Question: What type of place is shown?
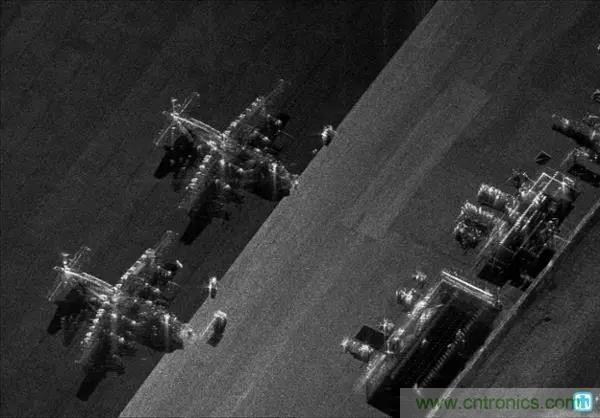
airport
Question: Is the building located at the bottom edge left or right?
right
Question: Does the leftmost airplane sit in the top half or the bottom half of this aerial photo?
bottom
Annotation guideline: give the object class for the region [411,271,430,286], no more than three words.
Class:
vehicle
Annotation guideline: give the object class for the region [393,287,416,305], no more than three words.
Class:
vehicle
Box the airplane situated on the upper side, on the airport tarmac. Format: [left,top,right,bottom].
[154,81,293,212]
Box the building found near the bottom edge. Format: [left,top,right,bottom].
[363,273,502,418]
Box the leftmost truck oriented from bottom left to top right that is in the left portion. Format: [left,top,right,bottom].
[197,310,226,341]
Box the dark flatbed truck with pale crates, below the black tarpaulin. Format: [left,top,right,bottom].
[341,339,377,365]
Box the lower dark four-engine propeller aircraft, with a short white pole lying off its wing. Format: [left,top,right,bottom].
[45,232,186,367]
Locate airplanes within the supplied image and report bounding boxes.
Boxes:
[154,81,293,212]
[45,232,186,367]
